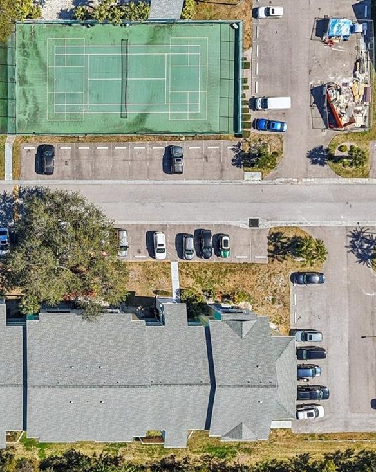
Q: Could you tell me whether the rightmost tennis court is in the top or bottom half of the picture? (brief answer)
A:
top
